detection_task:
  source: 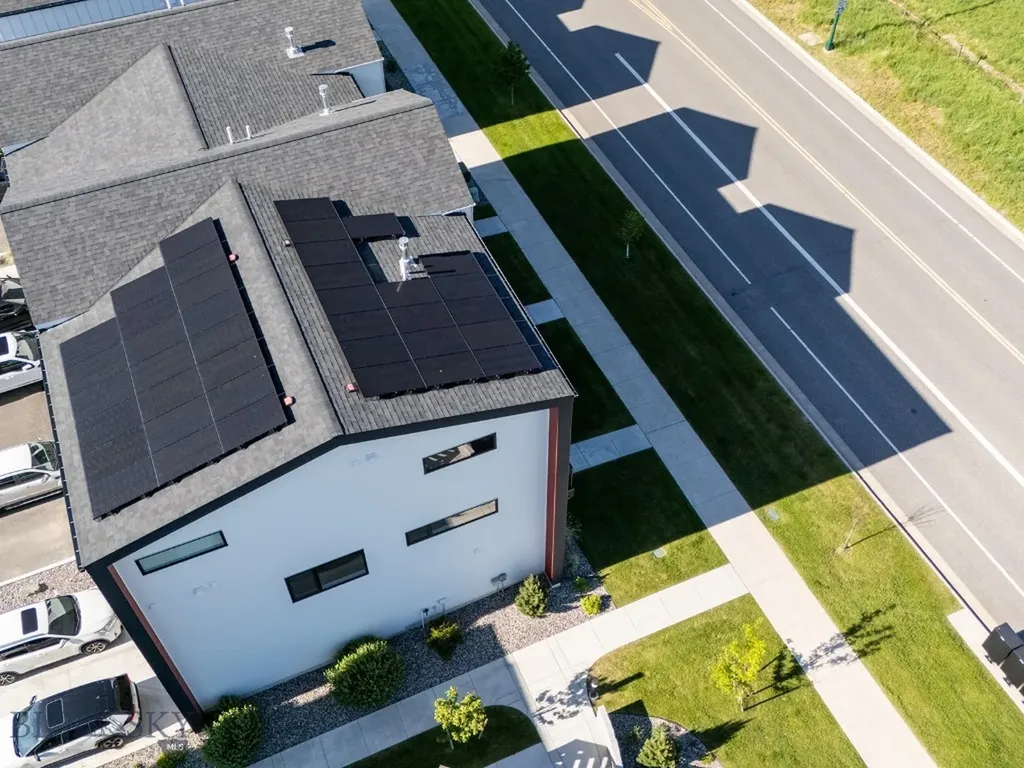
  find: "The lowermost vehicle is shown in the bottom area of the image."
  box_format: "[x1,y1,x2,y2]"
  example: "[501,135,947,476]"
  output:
[0,669,144,768]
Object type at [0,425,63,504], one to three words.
car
